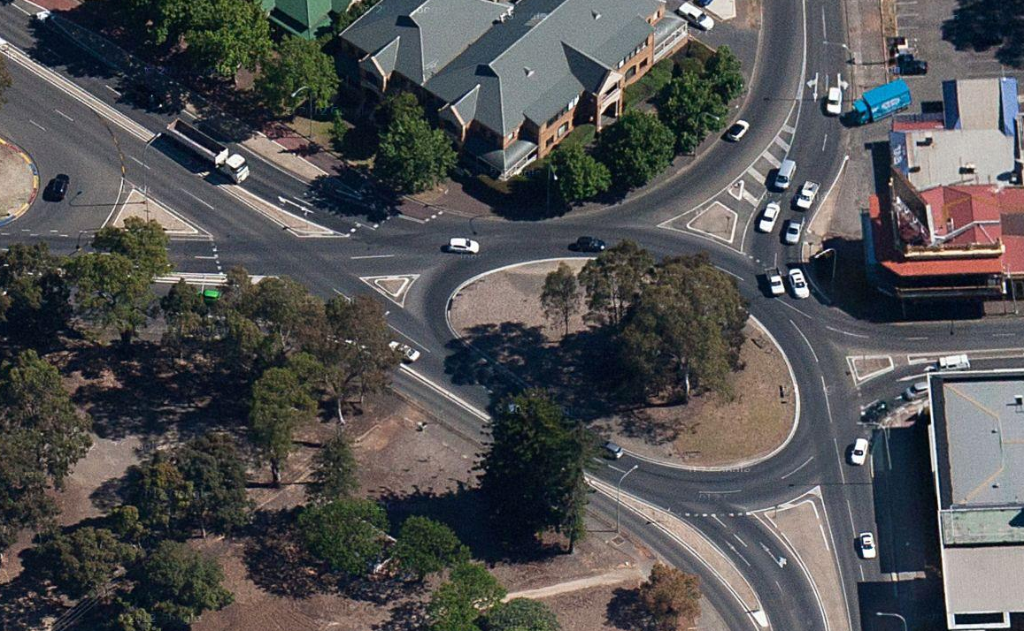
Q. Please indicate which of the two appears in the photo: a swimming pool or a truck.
truck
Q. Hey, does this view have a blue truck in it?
Yes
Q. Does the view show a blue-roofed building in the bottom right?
No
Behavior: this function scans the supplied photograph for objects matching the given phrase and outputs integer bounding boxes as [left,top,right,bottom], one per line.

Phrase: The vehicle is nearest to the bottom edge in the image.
[858,531,877,562]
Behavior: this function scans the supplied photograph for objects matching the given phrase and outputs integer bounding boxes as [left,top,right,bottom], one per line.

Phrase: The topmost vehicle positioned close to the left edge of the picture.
[27,0,57,26]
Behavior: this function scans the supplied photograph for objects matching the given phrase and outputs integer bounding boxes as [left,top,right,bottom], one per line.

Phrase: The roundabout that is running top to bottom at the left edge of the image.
[0,139,38,222]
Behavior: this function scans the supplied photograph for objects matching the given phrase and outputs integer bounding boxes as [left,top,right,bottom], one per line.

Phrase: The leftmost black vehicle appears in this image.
[50,173,69,202]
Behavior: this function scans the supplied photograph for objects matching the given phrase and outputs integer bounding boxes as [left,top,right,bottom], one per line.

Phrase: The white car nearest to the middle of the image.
[446,237,480,255]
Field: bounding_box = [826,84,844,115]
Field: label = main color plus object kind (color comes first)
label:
white car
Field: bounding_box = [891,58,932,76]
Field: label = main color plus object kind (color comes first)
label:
black vehicle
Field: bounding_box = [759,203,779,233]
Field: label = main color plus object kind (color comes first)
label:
white car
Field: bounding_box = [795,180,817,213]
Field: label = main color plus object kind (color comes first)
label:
white truck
